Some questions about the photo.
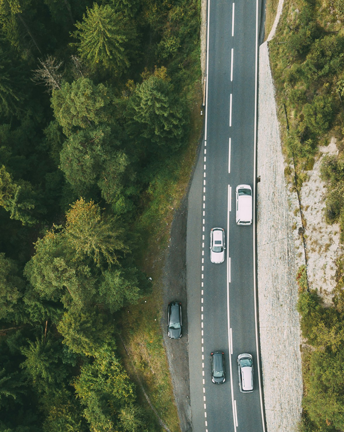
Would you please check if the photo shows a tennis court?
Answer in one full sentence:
No, the frame has no tennis court in it.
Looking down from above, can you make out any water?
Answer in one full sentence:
No, no water is visible.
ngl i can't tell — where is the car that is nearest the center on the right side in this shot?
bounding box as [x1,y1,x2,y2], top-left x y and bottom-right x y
[209,227,226,263]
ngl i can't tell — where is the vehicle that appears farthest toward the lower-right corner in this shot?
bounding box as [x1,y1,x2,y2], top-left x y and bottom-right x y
[210,351,226,383]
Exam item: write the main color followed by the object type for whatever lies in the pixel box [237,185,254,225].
white vehicle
